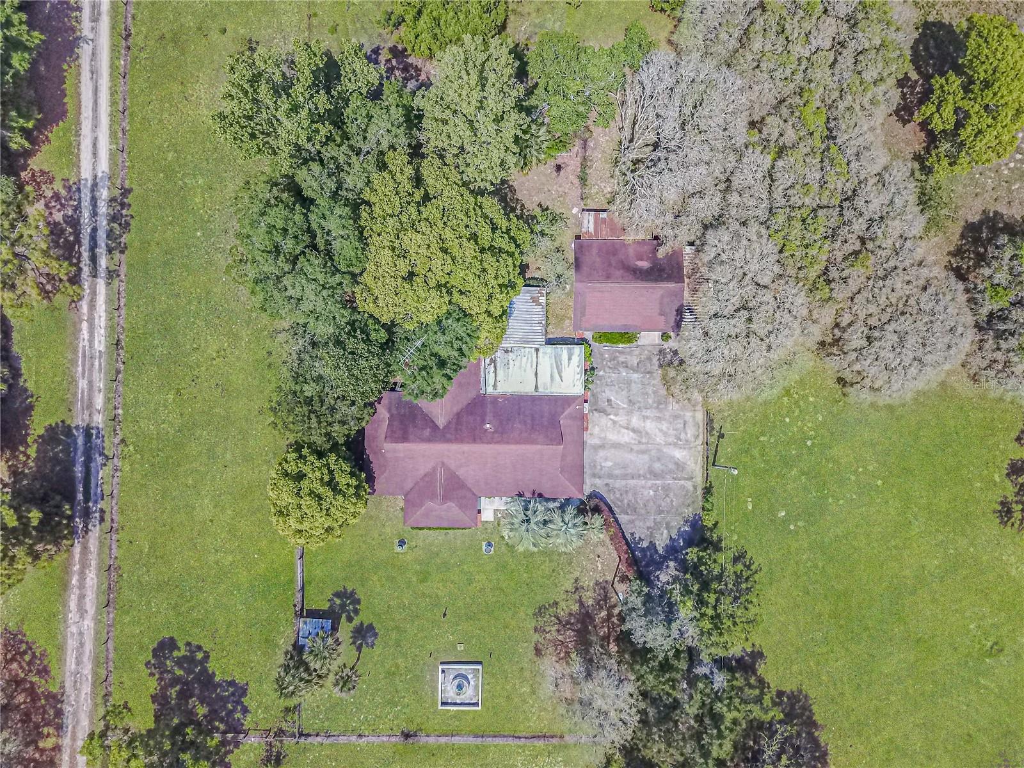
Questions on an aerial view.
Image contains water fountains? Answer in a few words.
Yes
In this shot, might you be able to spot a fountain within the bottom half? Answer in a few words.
Yes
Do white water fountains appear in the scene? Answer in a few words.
Yes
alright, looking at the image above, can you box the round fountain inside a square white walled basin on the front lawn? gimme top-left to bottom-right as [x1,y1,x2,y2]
[439,661,482,710]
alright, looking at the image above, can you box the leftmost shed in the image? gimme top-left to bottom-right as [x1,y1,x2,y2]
[299,613,335,646]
